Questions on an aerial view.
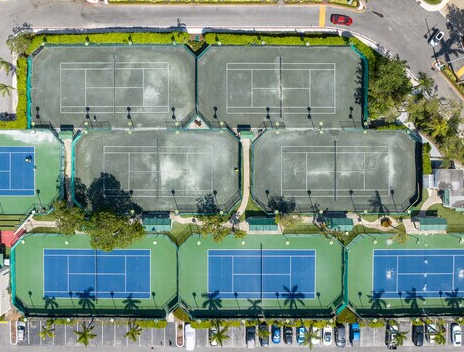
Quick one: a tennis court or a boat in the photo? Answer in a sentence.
It is a tennis court that can be seen here.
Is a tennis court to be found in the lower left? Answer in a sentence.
Yes, a tennis court can be seen in the lower left.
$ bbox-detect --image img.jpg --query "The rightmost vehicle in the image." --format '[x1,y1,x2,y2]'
[450,322,463,344]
